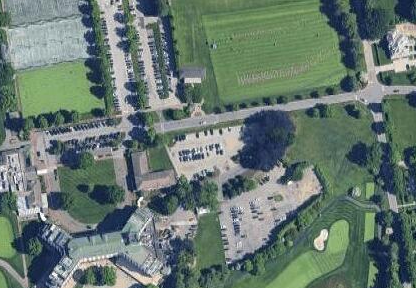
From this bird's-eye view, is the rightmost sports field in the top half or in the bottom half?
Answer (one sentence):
The rightmost sports field sits in the top half of the picture.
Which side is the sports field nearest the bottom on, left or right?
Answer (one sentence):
It is on the left.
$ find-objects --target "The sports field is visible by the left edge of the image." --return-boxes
[16,61,104,117]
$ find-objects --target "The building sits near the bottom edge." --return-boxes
[40,204,166,288]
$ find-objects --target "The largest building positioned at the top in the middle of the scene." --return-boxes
[180,67,204,85]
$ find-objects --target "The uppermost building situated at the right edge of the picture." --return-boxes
[388,28,416,63]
